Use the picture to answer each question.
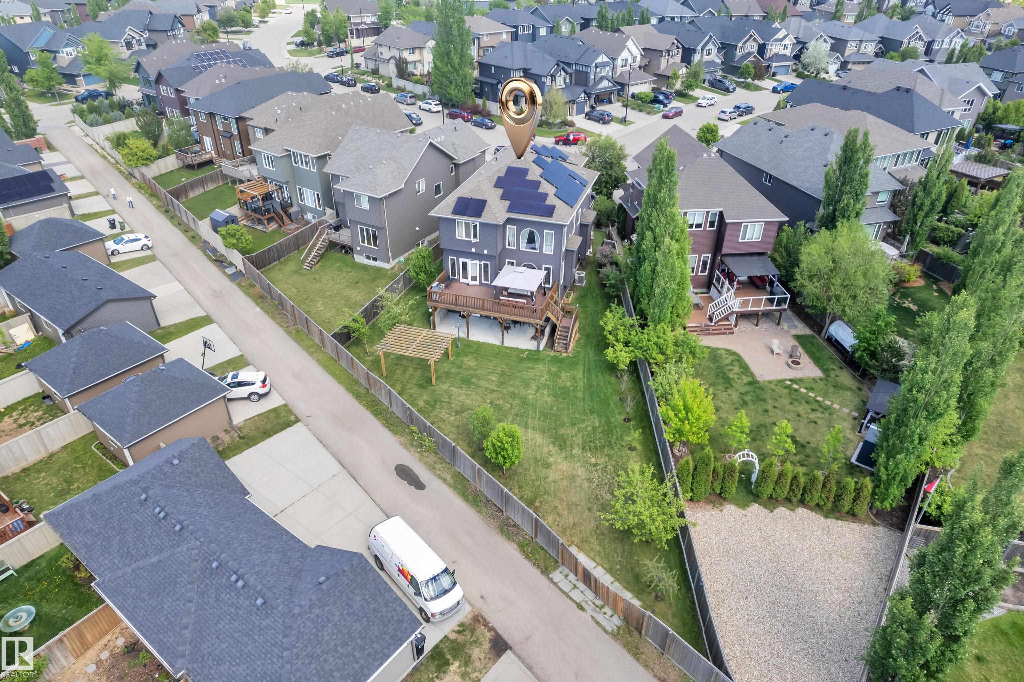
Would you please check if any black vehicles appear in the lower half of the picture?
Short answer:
No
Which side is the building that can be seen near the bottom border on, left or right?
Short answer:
left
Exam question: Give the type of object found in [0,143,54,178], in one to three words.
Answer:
building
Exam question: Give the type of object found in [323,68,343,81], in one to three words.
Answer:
vehicle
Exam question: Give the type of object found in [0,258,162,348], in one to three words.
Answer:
building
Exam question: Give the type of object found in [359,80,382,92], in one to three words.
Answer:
vehicle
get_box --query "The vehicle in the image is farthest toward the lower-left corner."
[224,369,274,415]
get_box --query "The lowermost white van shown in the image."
[371,516,472,631]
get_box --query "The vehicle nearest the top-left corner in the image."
[73,87,113,101]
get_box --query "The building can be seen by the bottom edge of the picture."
[35,442,426,682]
